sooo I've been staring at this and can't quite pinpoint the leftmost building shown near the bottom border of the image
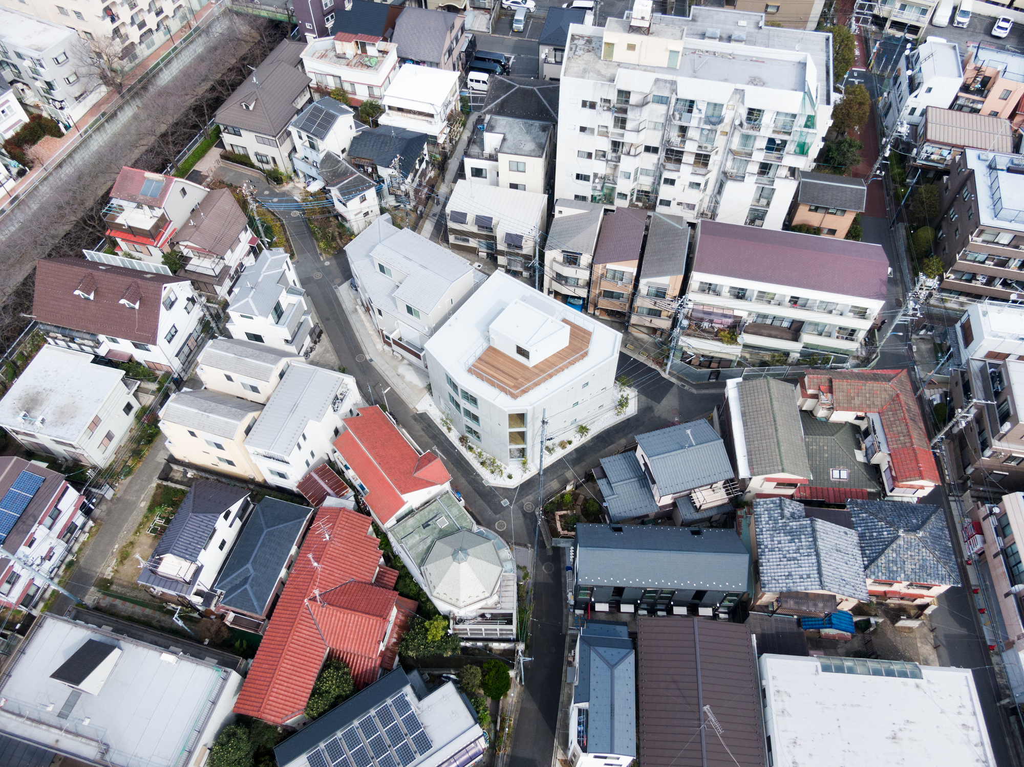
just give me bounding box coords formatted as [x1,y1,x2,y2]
[0,609,245,767]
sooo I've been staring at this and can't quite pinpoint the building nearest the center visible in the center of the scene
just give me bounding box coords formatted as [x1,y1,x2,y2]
[425,270,622,464]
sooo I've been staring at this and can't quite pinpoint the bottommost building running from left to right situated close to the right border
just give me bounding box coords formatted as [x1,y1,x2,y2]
[755,654,997,767]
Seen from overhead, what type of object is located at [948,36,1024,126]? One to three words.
house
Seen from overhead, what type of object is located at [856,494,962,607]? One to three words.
house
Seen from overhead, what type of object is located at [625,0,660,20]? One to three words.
water tank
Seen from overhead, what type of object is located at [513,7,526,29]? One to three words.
vehicle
